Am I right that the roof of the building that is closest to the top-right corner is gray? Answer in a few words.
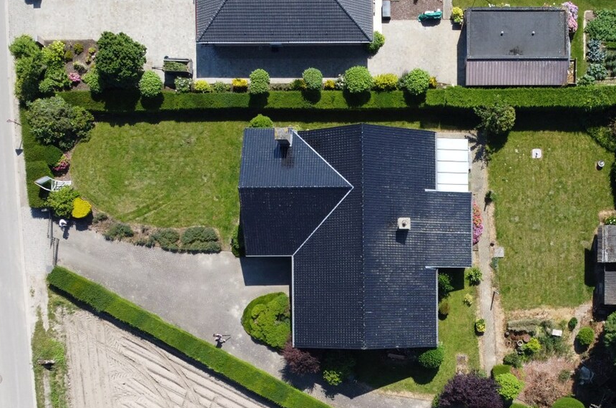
Yes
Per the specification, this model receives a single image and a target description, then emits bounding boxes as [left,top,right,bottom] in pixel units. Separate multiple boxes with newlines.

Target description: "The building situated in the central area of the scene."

[238,123,473,350]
